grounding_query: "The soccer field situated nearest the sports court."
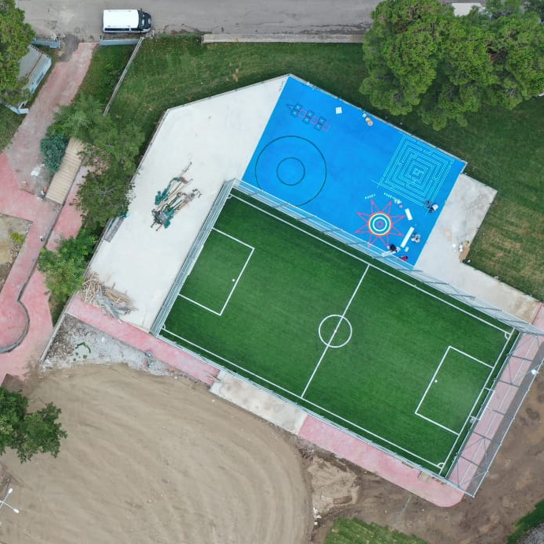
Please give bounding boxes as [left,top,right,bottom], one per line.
[153,182,519,479]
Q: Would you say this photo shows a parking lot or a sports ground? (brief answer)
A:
sports ground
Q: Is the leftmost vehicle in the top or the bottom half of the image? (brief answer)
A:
top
